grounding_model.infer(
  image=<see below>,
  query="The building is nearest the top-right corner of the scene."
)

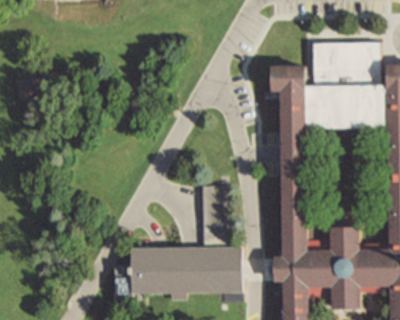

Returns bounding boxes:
[306,42,388,132]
